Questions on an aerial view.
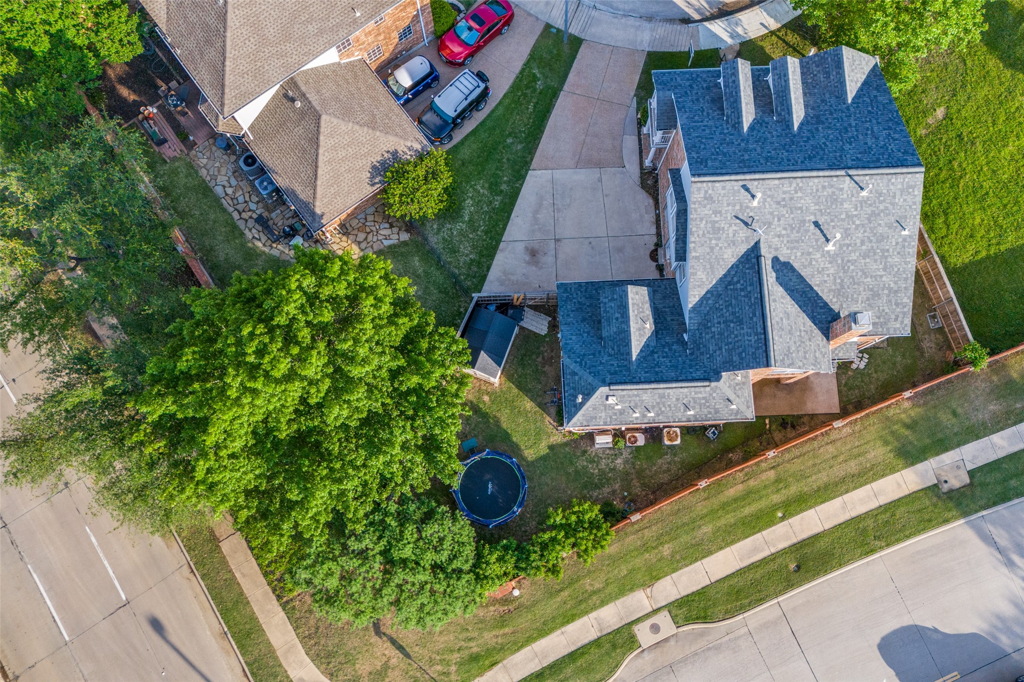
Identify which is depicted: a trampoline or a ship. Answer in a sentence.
Looking from above, you can make out a trampoline.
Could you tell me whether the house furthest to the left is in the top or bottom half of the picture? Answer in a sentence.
Seen from above, the house furthest to the left lies in the top half of the view.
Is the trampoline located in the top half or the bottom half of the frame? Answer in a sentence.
The trampoline is in the bottom half of the image.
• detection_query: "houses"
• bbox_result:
[139,0,439,240]
[556,44,924,434]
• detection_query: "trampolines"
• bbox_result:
[450,449,529,528]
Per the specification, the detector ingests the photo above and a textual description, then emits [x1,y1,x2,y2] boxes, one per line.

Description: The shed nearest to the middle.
[461,307,518,381]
